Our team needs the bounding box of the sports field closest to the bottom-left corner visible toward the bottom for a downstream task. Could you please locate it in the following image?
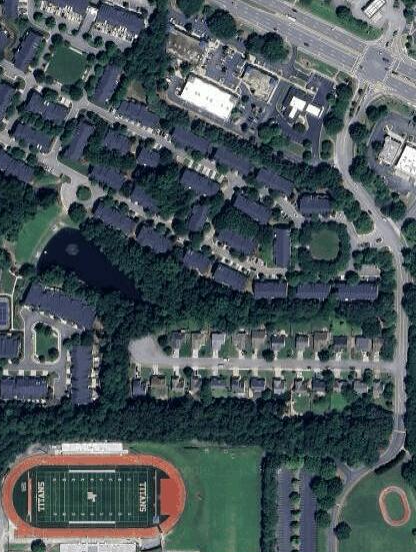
[34,469,150,524]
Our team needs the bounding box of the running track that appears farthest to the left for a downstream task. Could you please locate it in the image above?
[1,454,186,539]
